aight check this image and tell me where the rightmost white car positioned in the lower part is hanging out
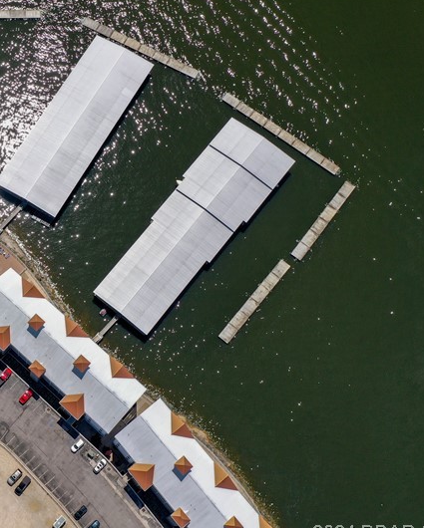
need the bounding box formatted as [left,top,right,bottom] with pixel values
[93,459,106,474]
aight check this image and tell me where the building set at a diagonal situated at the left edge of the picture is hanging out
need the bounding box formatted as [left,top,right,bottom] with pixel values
[0,269,146,435]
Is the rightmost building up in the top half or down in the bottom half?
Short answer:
bottom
